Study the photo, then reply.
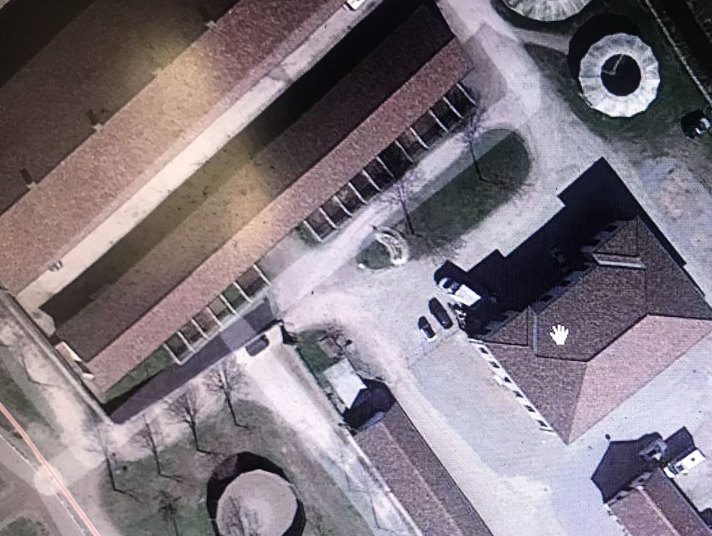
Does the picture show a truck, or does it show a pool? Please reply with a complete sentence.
Visible in the photo is a truck.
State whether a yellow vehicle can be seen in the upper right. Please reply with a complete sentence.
No, I can find no yellow vehicle in the upper right.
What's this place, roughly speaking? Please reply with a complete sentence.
The area seen from above is an industrial area.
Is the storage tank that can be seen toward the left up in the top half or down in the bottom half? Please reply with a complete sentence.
It is in the bottom half that the storage tank that can be seen toward the left appears.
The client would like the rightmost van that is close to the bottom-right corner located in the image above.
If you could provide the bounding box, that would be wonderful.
[662,448,706,477]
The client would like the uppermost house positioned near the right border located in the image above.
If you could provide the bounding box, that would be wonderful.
[466,215,712,444]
